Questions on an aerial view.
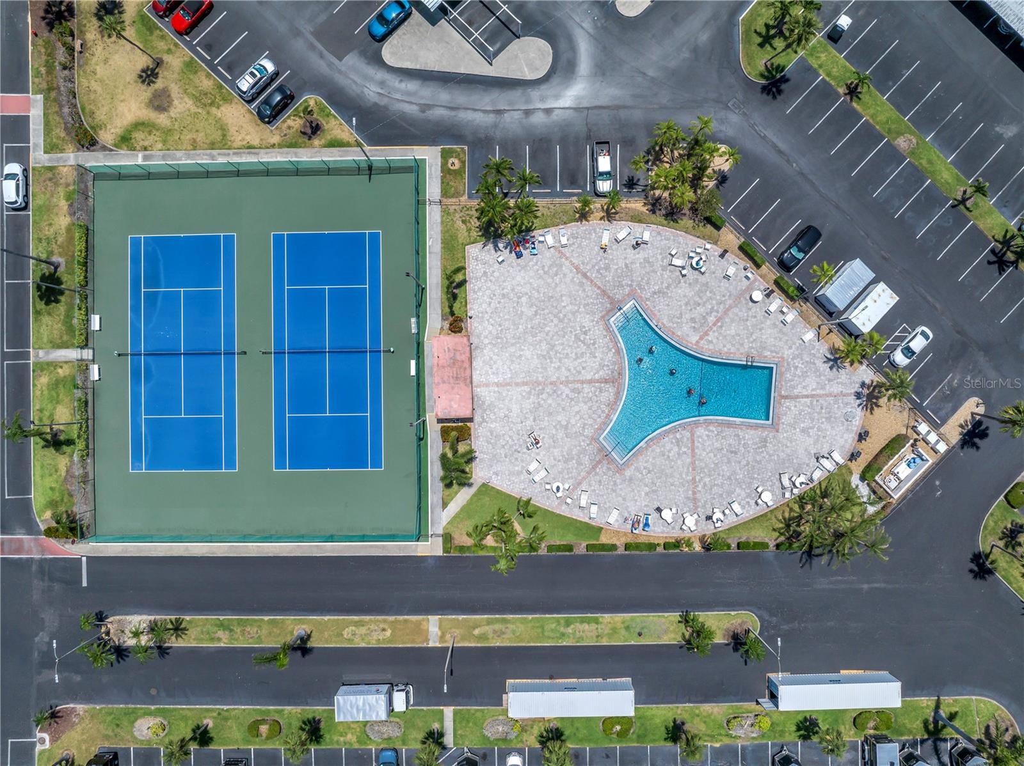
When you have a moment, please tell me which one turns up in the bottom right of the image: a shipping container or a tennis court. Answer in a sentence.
What appears in the bottom right of the image is a shipping container.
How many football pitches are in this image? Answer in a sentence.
The picture shows no football pitches.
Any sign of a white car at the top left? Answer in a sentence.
Yes, looking at the top left, one can make out a white car.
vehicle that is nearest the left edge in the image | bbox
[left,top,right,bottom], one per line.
[1,162,28,208]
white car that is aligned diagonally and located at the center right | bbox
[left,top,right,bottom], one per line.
[888,323,934,368]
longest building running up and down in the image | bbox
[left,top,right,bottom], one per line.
[433,335,474,418]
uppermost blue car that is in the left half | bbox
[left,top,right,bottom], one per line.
[368,0,414,42]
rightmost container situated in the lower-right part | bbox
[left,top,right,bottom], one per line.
[761,672,901,711]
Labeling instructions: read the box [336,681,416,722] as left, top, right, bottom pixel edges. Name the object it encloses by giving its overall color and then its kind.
white truck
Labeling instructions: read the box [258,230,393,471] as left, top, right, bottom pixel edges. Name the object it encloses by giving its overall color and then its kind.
blue tennis court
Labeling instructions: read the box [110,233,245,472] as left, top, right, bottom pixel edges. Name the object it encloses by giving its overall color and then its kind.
blue tennis court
